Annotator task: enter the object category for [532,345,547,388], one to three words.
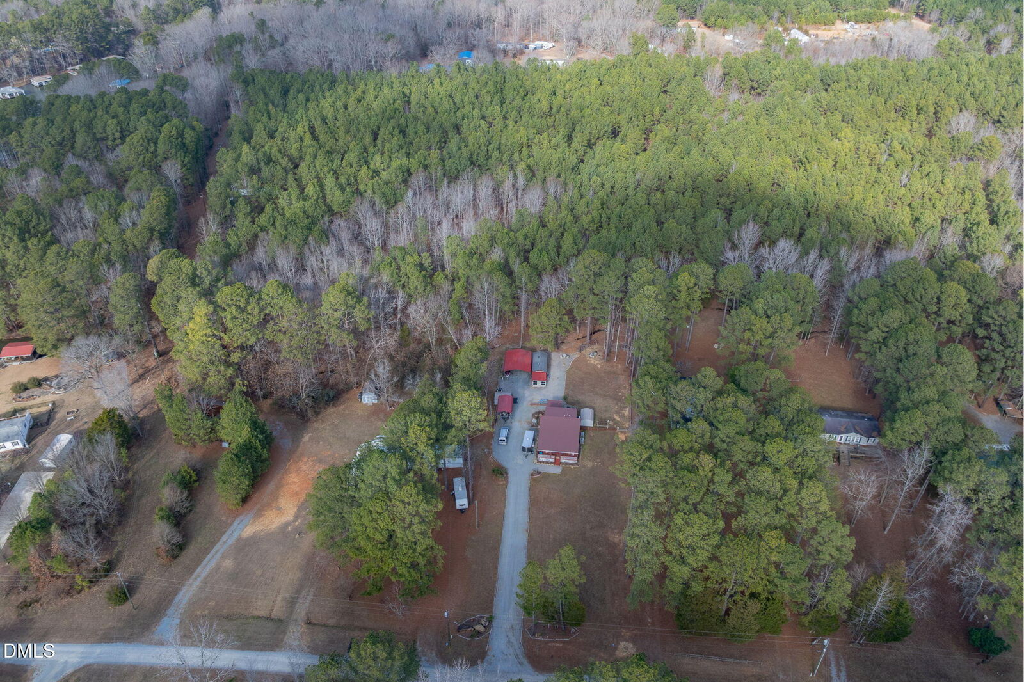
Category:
shed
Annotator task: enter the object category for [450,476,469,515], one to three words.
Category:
vehicle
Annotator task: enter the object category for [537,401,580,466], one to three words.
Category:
house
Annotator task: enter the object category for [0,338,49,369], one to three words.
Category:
building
